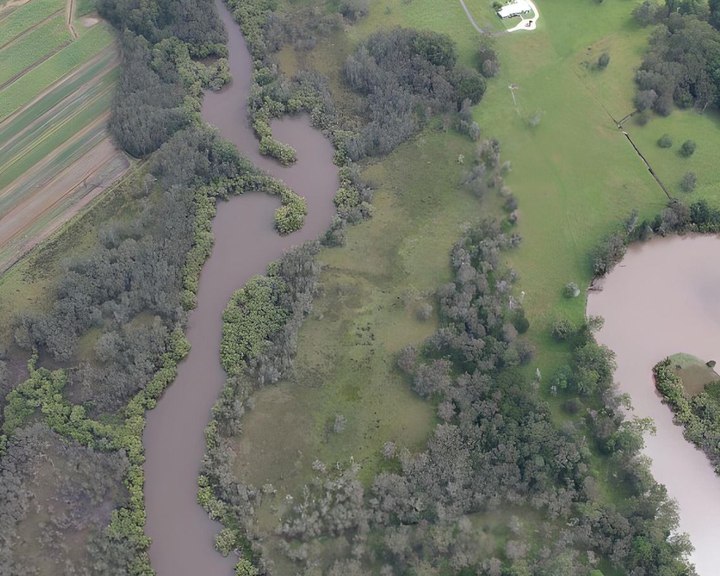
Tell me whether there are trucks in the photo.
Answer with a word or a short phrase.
No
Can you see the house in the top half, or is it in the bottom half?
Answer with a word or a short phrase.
top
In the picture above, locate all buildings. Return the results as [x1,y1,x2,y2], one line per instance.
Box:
[497,0,532,23]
